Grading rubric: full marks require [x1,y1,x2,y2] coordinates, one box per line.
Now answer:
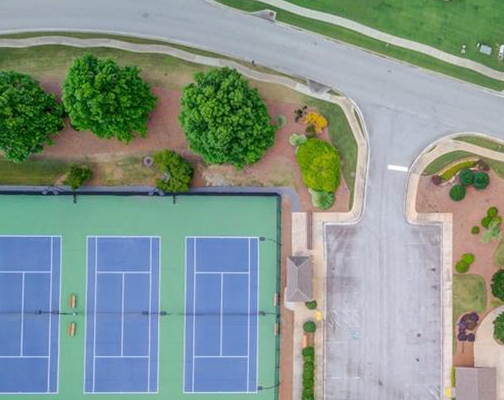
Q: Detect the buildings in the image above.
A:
[455,367,496,400]
[286,256,314,301]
